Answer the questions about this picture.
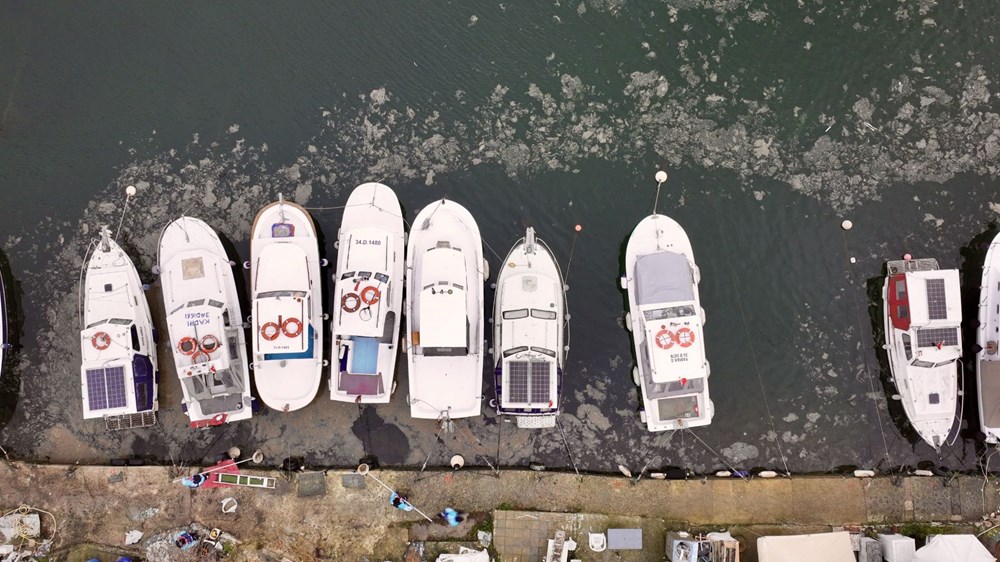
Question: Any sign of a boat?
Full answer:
Yes, the picture does show a boat.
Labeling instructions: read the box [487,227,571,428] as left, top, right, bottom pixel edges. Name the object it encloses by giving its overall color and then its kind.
white boat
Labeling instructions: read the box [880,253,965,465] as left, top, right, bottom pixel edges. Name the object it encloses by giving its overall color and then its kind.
white boat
